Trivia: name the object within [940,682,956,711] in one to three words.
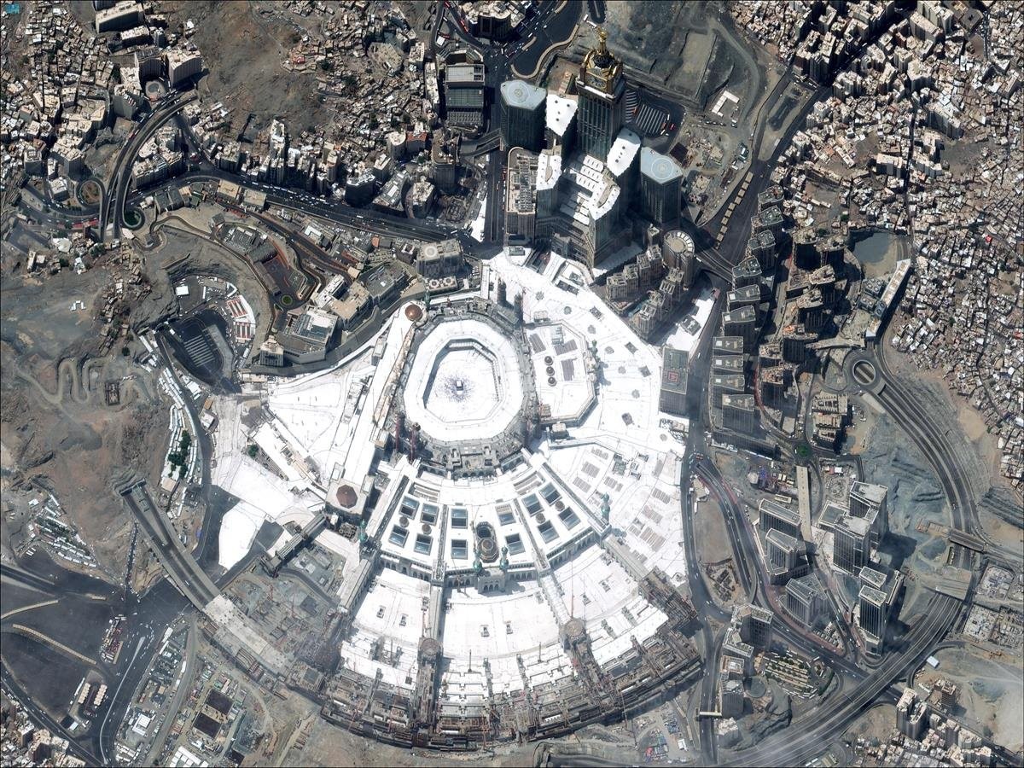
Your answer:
building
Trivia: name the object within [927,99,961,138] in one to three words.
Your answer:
building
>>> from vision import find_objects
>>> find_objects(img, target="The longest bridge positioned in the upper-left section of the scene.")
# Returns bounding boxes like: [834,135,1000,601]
[97,88,196,242]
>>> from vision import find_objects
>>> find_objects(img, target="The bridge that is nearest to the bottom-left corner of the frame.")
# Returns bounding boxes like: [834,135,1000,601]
[201,592,297,674]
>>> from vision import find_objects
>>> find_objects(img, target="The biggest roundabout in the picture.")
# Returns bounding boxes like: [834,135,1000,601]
[843,353,886,392]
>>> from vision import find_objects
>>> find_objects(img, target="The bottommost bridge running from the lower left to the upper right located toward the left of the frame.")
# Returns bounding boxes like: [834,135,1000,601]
[261,514,326,576]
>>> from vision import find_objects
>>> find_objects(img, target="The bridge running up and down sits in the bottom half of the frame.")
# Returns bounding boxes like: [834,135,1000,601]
[796,464,814,542]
